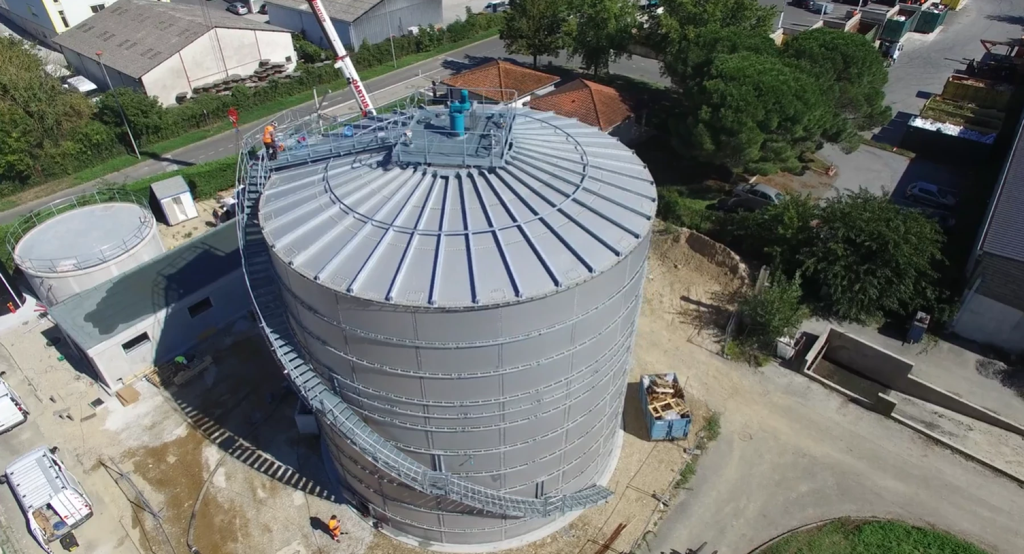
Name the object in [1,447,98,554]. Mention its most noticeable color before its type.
white van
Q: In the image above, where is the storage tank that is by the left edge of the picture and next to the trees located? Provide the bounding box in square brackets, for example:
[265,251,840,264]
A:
[6,184,176,319]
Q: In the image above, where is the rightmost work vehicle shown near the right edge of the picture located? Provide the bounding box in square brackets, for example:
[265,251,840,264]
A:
[988,38,1024,73]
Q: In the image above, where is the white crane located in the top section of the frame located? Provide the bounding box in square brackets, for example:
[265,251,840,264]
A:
[300,0,395,141]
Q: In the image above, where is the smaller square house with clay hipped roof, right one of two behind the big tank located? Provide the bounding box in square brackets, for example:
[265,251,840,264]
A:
[532,85,638,144]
